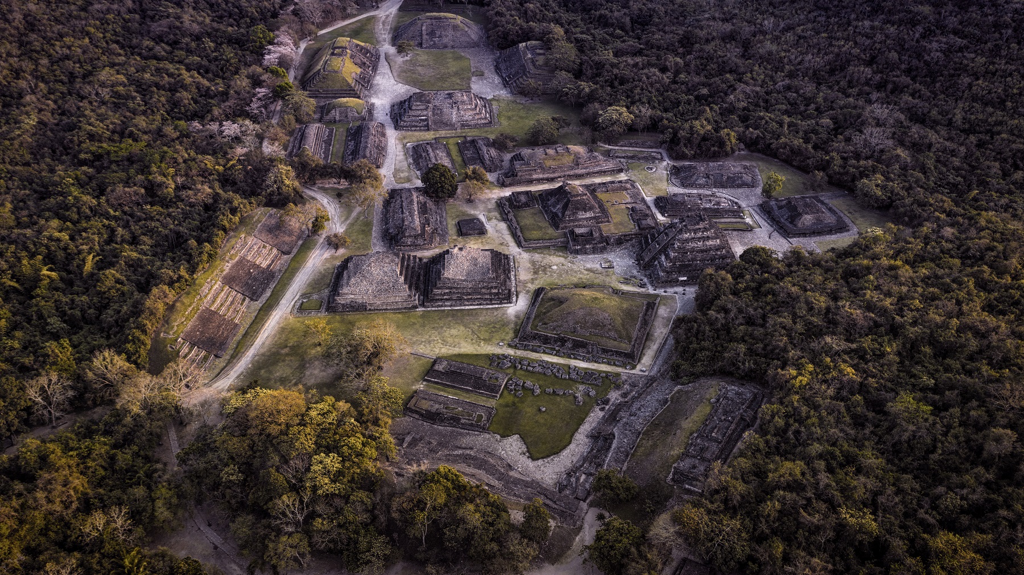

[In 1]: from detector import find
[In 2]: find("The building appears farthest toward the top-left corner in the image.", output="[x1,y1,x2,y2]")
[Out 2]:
[396,90,500,132]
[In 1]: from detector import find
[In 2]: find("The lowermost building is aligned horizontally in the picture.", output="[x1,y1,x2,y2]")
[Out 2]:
[655,184,745,218]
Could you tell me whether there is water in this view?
No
